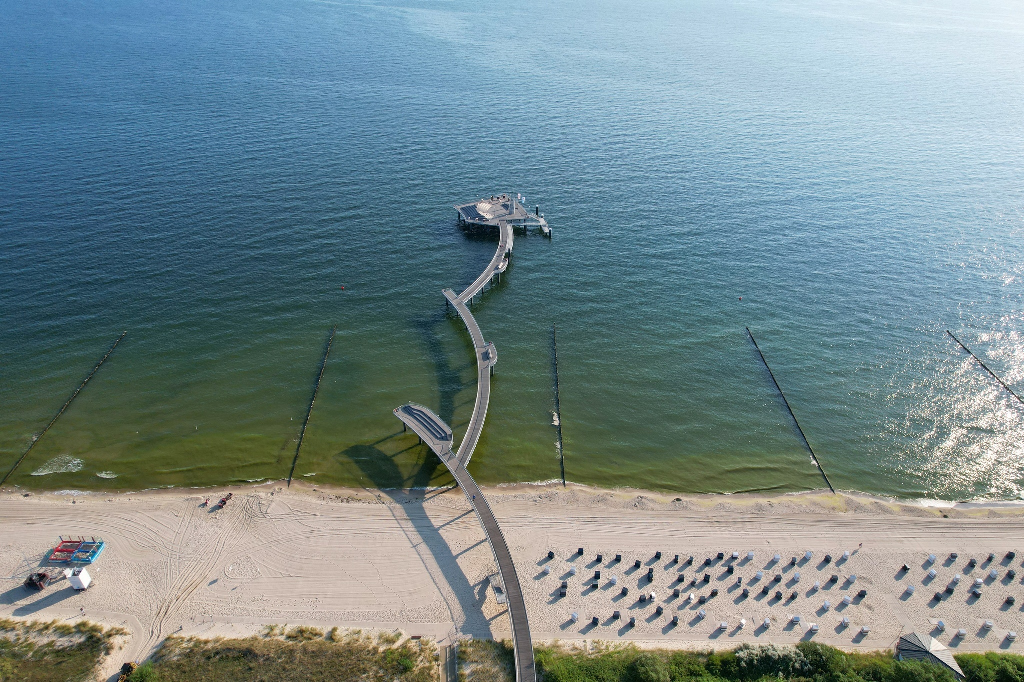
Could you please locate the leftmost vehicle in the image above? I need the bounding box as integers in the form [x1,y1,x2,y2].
[113,656,141,682]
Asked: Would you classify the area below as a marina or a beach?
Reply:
beach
